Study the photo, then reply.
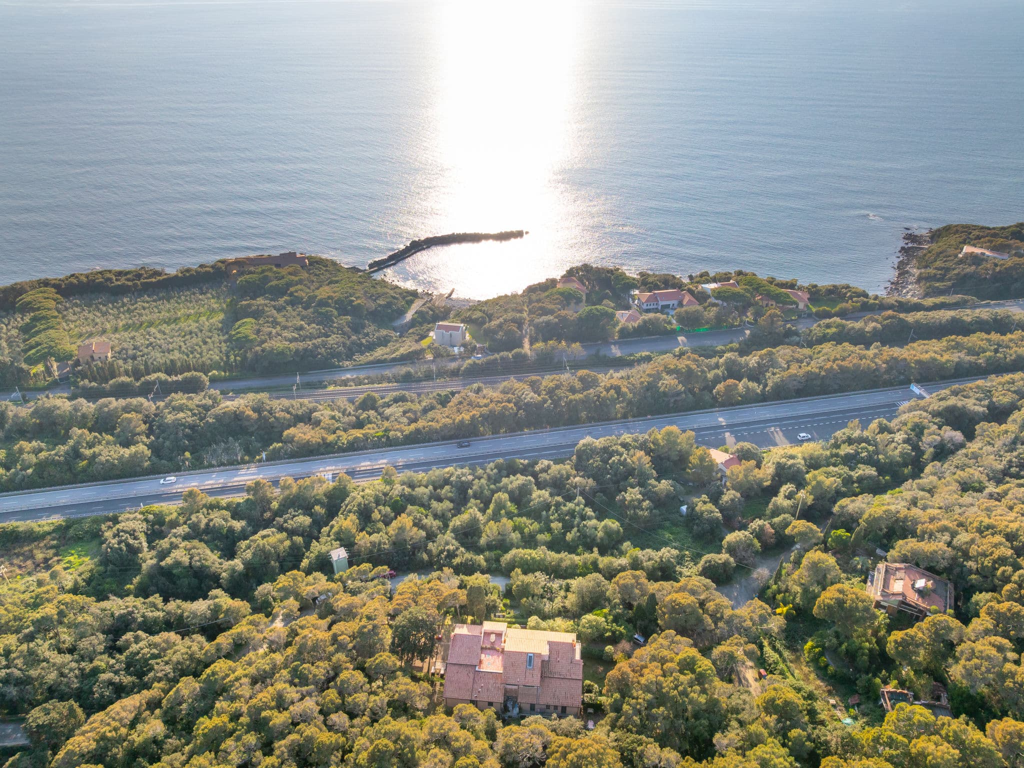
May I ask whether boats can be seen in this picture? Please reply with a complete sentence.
No, no boat is visible in the scene.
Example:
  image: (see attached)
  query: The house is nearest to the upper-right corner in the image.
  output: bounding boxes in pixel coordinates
[958,243,1014,262]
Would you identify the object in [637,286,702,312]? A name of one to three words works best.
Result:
house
